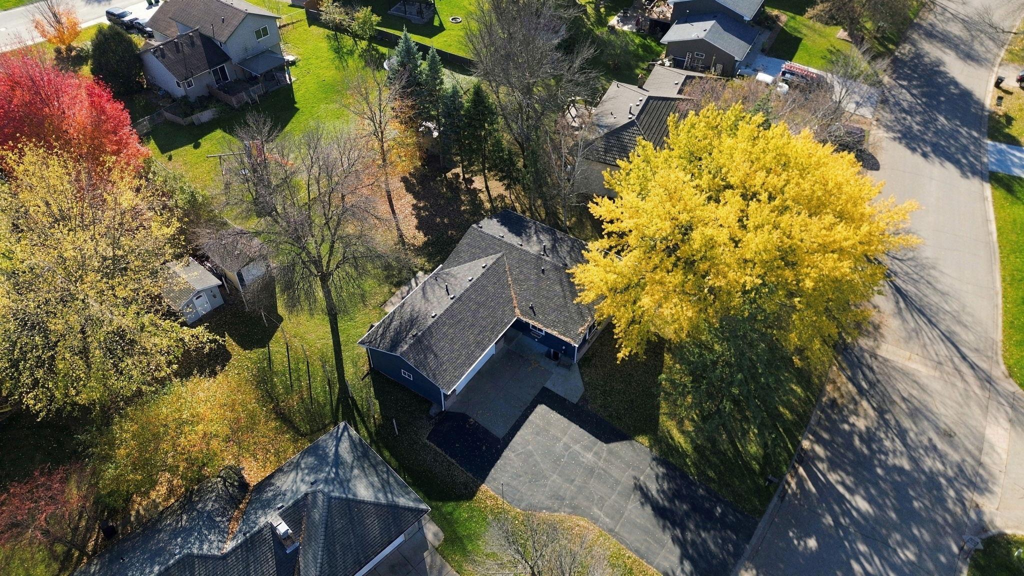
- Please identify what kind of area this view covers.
residential area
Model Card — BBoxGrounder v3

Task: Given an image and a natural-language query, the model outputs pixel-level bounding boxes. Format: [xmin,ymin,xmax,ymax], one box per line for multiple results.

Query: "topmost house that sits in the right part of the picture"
[641,0,763,75]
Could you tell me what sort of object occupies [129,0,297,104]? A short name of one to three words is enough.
house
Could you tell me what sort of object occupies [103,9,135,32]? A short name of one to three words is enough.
car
